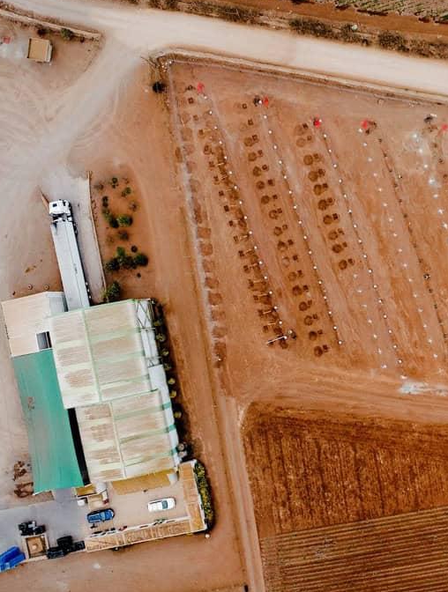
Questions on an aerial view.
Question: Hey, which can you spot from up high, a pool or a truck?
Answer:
truck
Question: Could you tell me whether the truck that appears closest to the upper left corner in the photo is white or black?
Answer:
white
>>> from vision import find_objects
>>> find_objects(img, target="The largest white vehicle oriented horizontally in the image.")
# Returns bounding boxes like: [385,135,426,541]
[145,497,174,514]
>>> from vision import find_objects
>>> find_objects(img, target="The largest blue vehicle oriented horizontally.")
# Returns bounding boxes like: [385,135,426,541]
[83,509,115,527]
